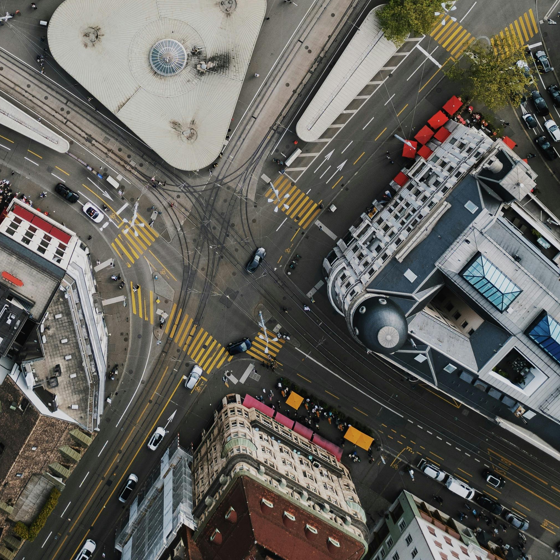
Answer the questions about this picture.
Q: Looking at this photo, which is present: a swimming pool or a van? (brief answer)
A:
van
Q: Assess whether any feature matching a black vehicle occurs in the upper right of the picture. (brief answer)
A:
Yes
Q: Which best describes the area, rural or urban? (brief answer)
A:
urban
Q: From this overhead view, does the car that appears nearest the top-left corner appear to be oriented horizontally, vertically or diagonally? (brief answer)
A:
diagonally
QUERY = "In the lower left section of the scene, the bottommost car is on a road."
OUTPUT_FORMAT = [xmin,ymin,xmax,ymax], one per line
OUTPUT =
[74,536,98,560]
